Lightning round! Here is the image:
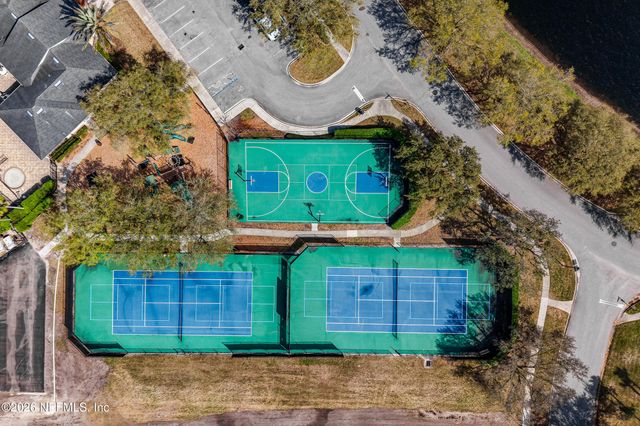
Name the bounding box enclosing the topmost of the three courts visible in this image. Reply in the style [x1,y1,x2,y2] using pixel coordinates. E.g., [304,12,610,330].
[229,139,406,222]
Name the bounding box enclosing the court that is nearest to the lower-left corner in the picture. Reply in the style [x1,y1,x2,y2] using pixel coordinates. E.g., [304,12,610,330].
[74,253,291,353]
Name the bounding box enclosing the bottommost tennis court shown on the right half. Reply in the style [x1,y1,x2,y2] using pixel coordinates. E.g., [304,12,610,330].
[291,246,504,353]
